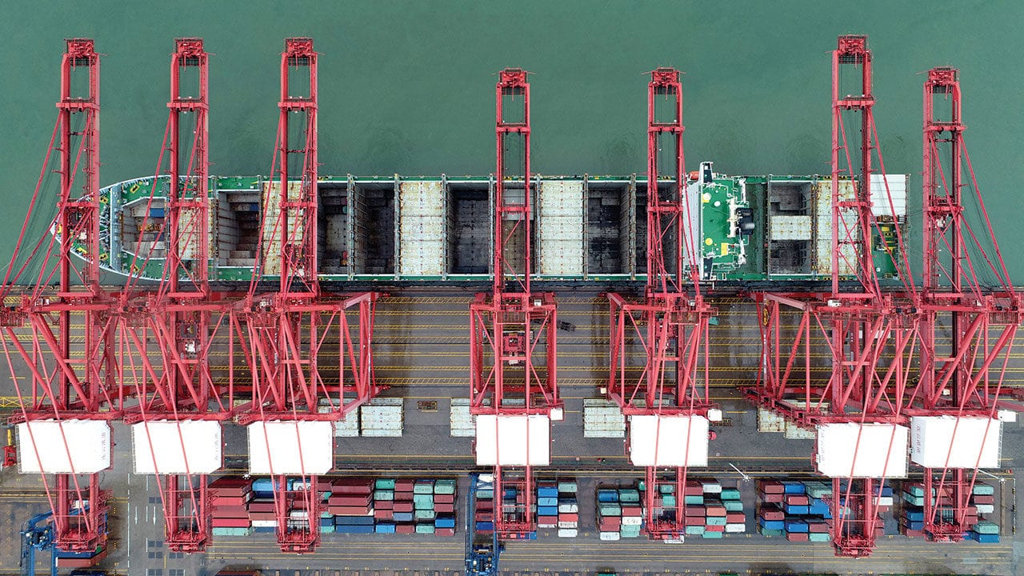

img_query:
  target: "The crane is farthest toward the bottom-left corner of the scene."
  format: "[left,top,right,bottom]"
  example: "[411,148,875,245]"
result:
[24,503,109,576]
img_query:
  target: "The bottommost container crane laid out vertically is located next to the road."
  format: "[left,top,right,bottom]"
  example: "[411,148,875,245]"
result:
[466,457,504,576]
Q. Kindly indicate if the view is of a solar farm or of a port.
port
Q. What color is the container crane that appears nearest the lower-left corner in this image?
blue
